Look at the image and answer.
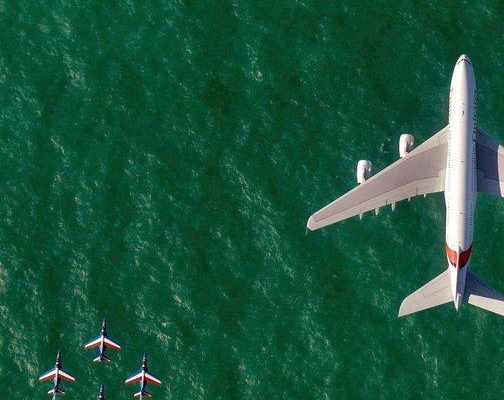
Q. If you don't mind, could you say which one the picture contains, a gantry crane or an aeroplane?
aeroplane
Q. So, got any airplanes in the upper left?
No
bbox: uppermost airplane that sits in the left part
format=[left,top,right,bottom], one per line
[85,319,121,362]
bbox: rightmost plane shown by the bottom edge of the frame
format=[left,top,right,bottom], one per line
[125,352,162,397]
